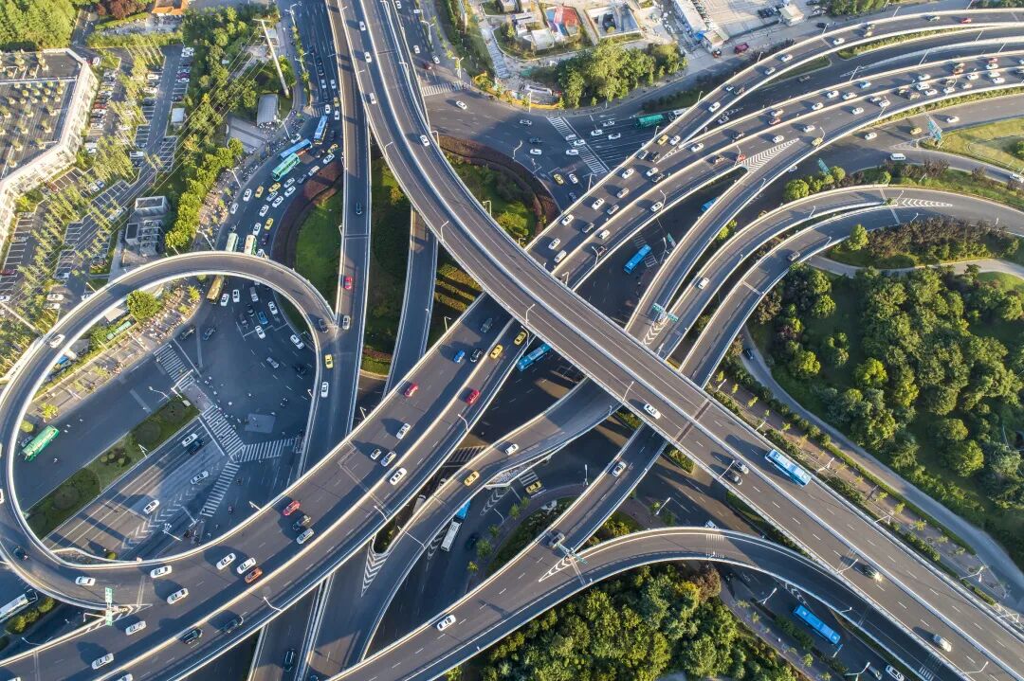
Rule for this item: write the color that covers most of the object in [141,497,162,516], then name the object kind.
white car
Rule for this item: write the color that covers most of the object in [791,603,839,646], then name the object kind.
blue bus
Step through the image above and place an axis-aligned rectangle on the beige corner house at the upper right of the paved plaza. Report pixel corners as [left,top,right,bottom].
[776,4,803,31]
